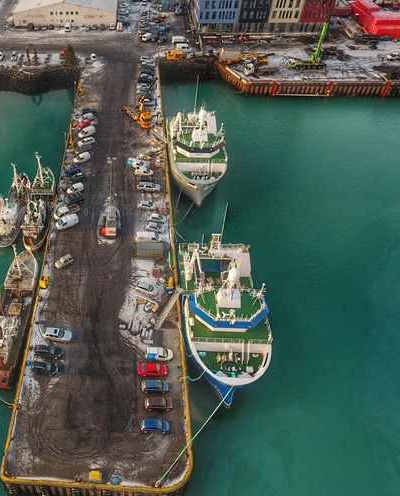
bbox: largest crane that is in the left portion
[119,85,167,133]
